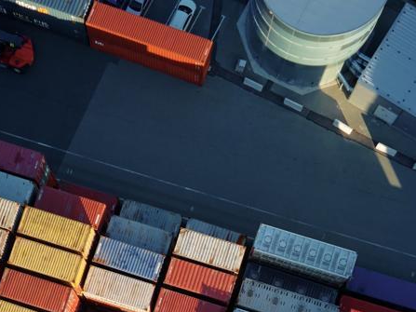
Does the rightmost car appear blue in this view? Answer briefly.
Yes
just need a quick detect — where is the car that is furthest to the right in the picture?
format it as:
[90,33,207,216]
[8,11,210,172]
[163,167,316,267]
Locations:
[166,0,198,31]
